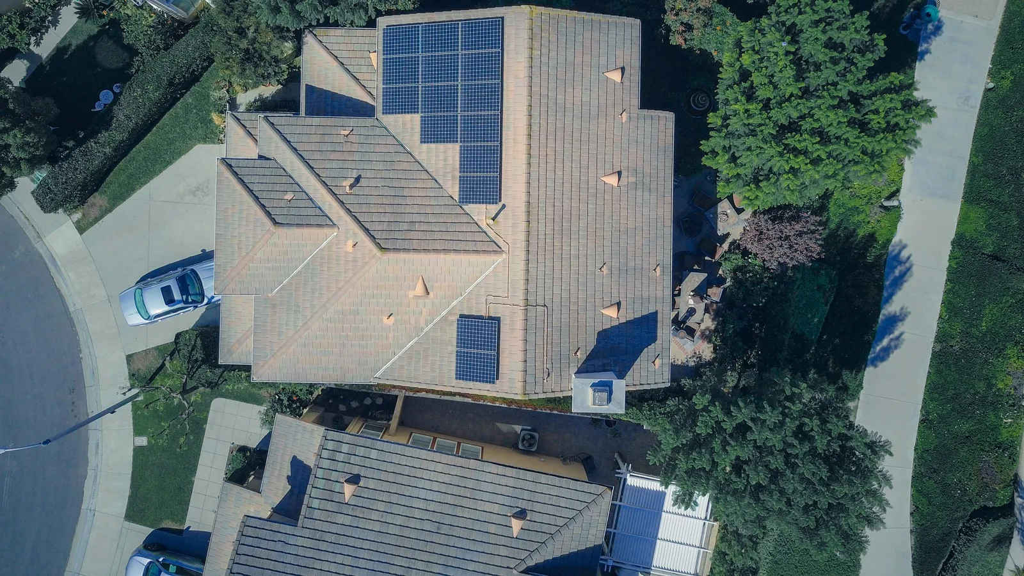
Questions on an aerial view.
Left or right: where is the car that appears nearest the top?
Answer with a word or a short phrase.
left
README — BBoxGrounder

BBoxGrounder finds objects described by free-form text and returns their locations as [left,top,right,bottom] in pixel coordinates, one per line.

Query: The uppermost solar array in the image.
[380,21,501,204]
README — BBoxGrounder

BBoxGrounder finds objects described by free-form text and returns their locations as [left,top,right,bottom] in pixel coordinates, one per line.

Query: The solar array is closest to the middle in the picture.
[454,319,496,383]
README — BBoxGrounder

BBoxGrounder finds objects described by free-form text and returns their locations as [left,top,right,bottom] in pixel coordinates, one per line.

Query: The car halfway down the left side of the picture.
[120,271,220,327]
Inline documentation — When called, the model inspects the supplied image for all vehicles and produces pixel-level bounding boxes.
[121,544,203,576]
[120,271,220,327]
